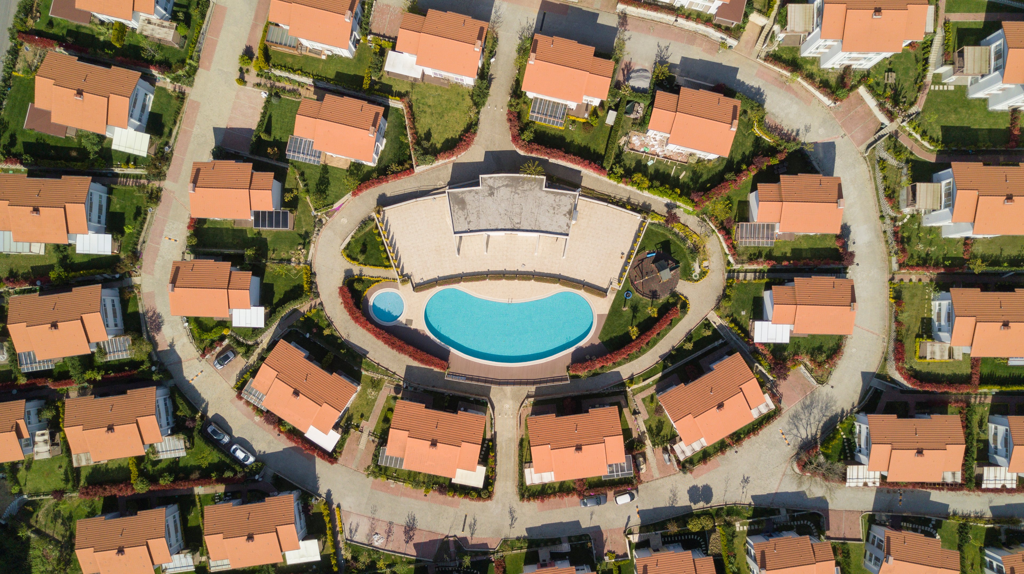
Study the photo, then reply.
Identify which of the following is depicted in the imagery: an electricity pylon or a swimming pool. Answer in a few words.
swimming pool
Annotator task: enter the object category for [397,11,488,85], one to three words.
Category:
house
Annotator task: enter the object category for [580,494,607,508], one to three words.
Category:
car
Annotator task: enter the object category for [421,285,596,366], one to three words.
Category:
swimming pool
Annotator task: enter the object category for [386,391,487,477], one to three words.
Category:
house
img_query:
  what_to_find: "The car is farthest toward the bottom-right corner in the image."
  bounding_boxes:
[614,489,639,506]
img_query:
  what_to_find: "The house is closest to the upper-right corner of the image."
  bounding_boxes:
[971,18,1024,106]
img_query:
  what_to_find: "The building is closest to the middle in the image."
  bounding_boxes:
[446,174,579,259]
